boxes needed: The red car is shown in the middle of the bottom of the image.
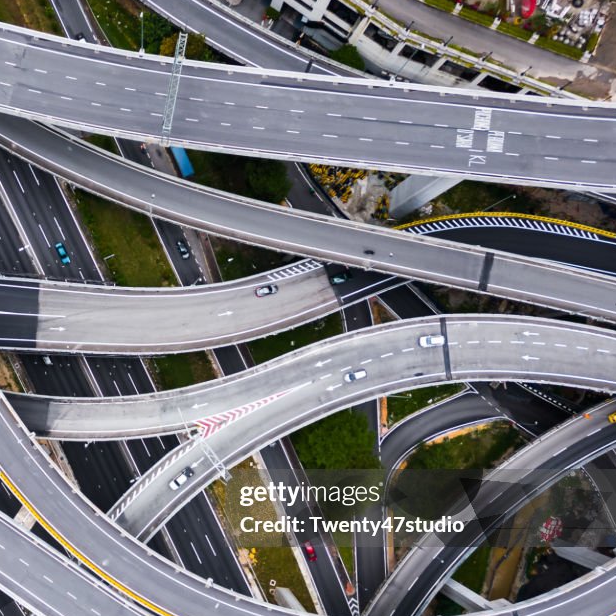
[304,543,318,565]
